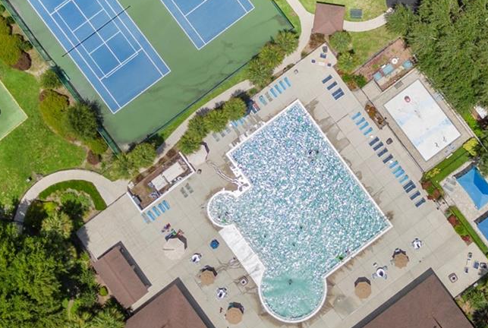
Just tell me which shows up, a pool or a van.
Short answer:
pool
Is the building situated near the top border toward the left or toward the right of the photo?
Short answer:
right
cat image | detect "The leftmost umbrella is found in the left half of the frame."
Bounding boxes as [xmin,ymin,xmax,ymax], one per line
[164,236,185,259]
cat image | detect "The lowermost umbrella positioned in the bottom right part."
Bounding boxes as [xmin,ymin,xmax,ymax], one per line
[354,282,372,298]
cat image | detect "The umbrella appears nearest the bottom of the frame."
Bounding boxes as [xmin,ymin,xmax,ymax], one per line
[226,308,243,324]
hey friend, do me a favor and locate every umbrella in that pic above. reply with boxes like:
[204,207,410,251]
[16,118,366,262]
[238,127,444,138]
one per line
[226,308,243,324]
[393,252,410,269]
[164,236,185,259]
[199,270,215,285]
[354,282,372,298]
